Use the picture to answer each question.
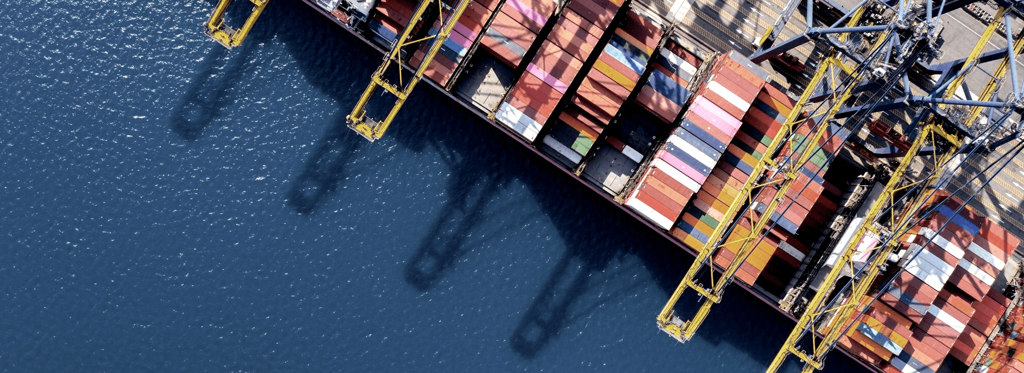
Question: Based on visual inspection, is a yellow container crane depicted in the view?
Yes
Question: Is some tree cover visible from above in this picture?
No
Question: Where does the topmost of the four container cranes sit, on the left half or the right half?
left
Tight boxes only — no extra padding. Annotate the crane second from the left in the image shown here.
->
[346,0,473,144]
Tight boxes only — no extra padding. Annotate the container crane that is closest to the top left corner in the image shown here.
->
[202,0,270,55]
